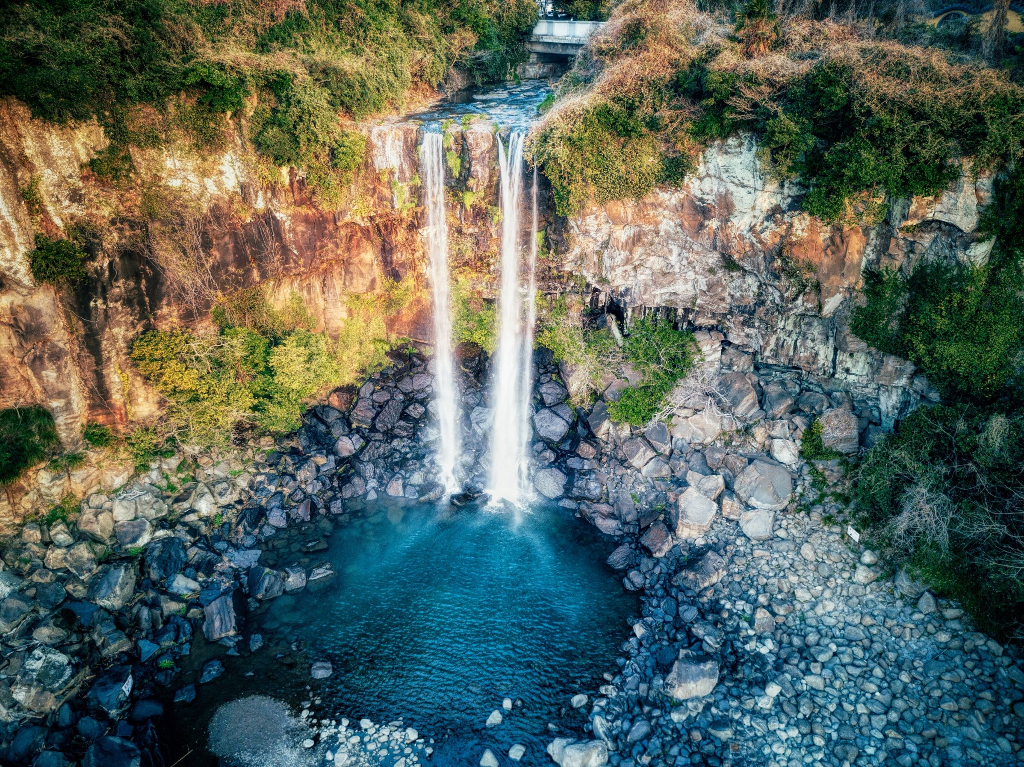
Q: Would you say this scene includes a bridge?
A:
Yes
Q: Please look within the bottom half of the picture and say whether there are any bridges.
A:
No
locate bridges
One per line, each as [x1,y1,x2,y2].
[521,16,618,78]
